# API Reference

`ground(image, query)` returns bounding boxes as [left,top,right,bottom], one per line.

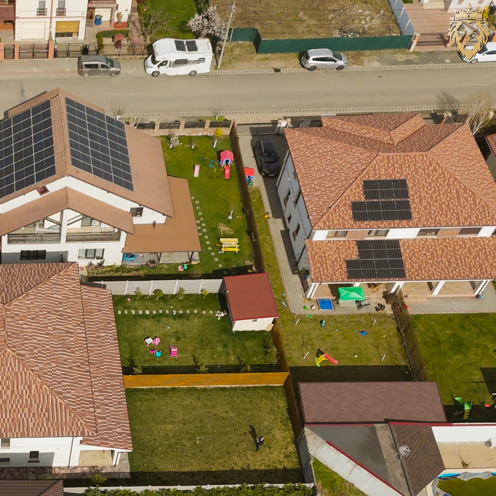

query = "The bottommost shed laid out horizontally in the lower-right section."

[294,383,447,436]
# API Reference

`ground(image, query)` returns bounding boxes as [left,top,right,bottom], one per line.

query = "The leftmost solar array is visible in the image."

[0,102,58,196]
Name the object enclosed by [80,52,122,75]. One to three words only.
vehicle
